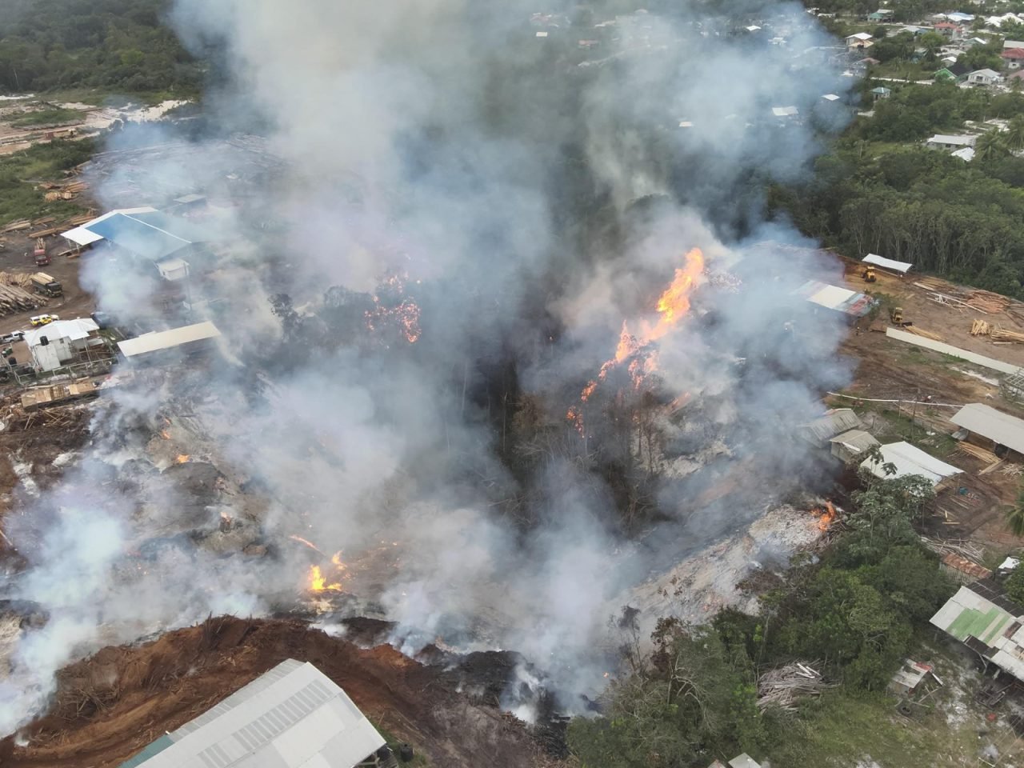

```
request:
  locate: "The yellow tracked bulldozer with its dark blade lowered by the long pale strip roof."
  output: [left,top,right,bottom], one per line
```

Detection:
[889,307,911,330]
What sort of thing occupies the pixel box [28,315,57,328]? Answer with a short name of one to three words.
vehicle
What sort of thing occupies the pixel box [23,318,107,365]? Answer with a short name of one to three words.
house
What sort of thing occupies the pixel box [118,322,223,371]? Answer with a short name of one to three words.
shed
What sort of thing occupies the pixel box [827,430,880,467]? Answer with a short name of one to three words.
building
